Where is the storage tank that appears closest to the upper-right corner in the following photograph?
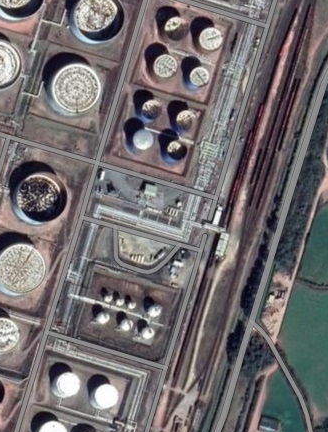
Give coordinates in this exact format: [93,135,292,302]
[193,27,225,56]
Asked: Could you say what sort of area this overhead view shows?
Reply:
industrial area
